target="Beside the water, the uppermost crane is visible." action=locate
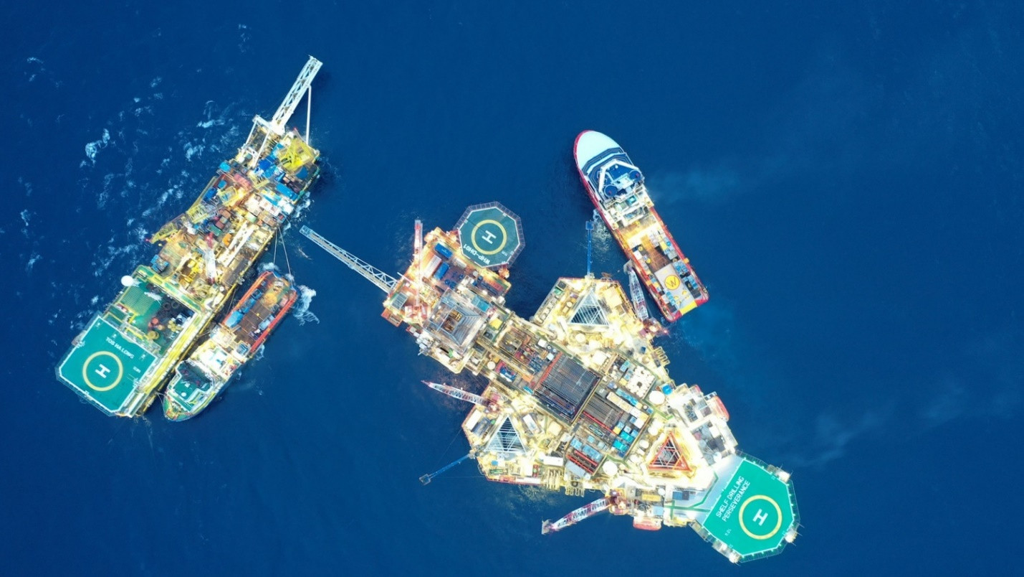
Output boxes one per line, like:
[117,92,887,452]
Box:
[279,127,317,172]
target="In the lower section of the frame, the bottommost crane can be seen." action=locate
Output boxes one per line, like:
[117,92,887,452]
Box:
[551,485,633,529]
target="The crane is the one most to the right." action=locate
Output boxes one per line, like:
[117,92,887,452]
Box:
[628,266,660,334]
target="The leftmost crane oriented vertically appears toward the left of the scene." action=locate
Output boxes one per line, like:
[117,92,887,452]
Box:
[199,233,217,284]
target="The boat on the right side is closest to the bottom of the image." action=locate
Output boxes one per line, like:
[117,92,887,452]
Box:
[633,513,660,528]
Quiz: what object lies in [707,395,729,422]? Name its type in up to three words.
boat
